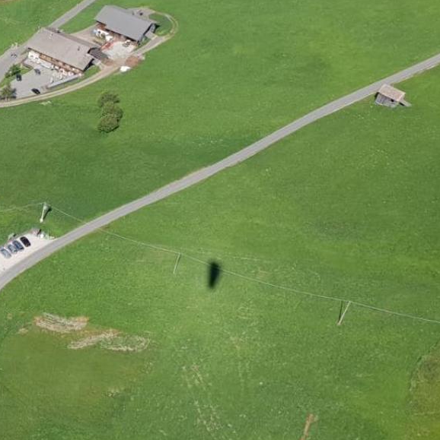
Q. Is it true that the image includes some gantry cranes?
No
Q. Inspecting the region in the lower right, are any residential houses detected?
No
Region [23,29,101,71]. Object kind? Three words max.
house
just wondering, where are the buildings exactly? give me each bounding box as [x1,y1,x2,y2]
[23,29,101,71]
[90,5,153,43]
[373,84,409,108]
